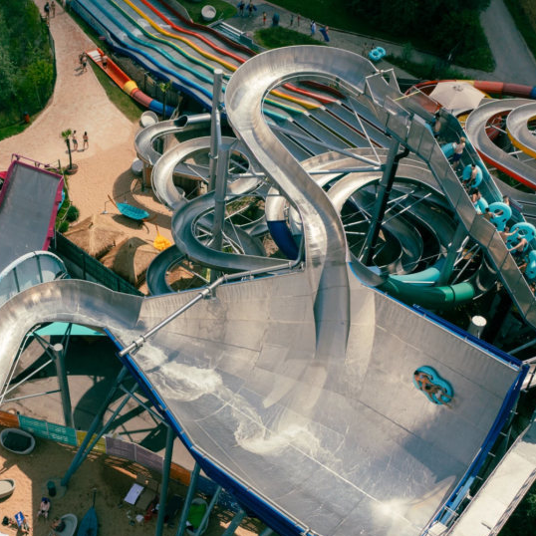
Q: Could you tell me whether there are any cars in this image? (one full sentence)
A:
No, no car can be seen from above.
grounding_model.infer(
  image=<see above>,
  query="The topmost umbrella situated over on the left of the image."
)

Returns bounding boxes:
[62,214,128,258]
